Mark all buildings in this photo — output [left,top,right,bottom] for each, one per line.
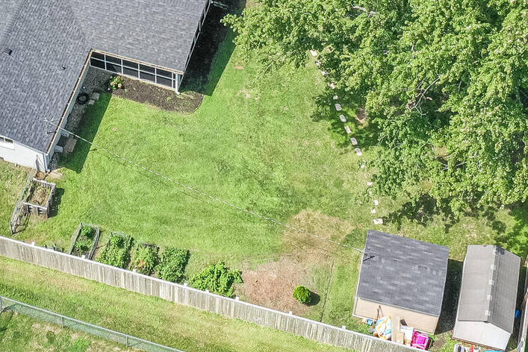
[0,0,228,180]
[354,233,449,333]
[452,247,522,347]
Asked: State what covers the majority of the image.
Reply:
grass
